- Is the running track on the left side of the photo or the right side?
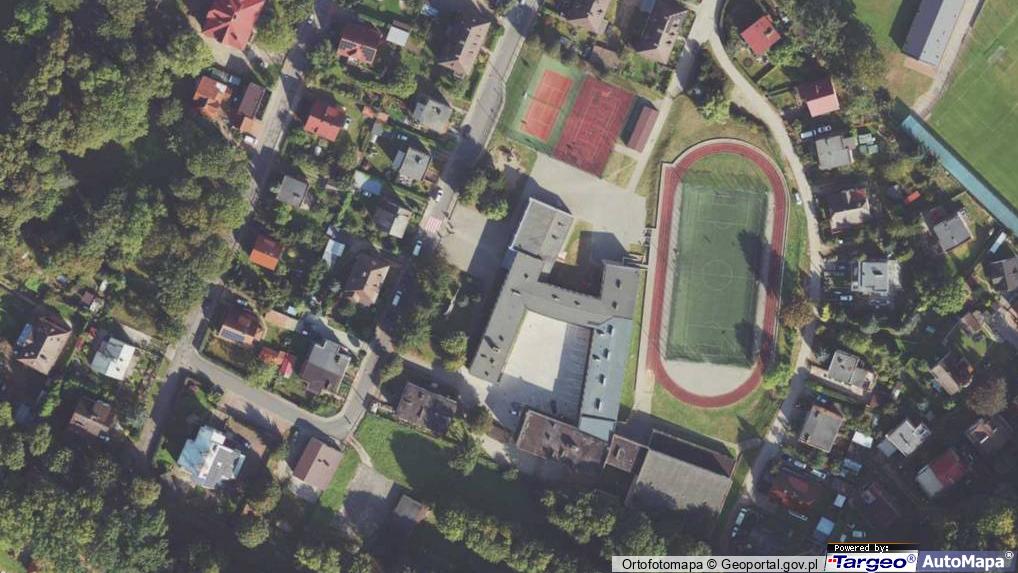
right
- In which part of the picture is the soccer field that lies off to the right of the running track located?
top right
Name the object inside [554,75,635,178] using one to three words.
sports court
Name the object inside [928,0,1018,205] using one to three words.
soccer field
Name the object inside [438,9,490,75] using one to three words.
house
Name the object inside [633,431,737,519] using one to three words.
building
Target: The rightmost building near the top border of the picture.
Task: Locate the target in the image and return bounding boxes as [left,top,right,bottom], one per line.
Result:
[903,0,965,65]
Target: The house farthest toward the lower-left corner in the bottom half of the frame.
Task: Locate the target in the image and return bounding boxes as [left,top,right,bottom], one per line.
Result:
[70,397,116,438]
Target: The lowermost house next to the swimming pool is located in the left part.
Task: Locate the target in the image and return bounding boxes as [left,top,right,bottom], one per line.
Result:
[373,202,411,240]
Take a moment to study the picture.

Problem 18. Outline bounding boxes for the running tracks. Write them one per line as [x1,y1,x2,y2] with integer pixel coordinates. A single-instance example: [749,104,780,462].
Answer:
[646,136,788,411]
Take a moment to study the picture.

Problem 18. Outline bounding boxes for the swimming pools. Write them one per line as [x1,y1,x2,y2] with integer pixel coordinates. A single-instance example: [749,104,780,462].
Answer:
[363,178,381,197]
